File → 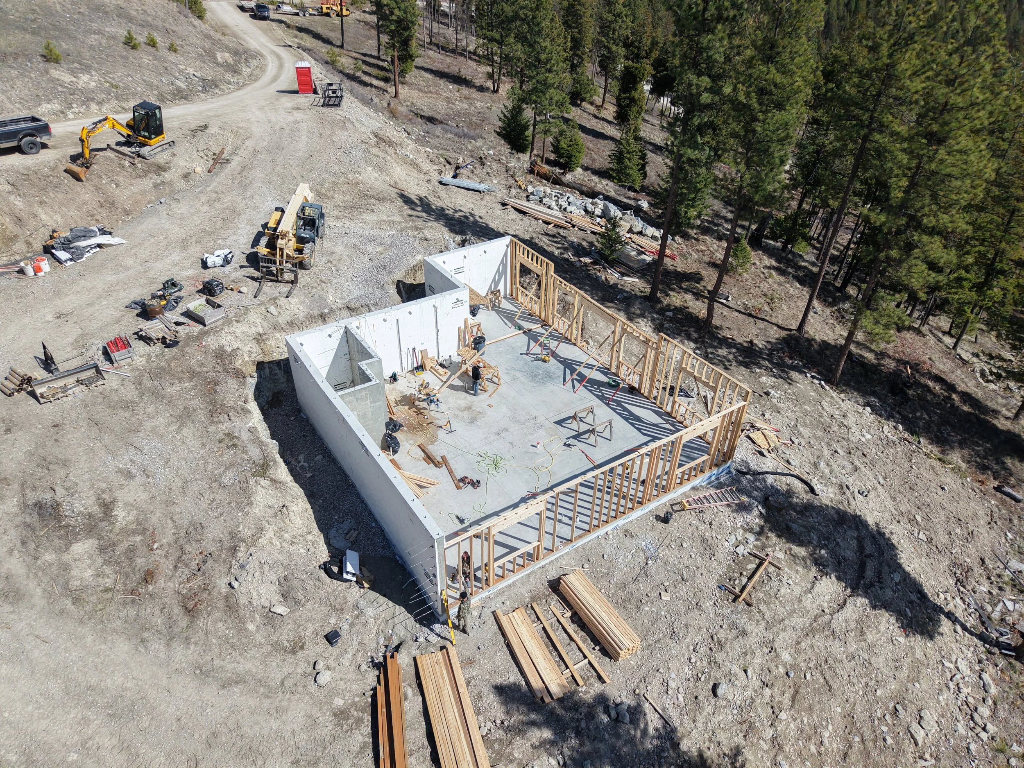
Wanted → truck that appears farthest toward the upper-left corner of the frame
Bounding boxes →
[0,118,55,153]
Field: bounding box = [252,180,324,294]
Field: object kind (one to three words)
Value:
work vehicle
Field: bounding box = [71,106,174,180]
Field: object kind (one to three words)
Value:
work vehicle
